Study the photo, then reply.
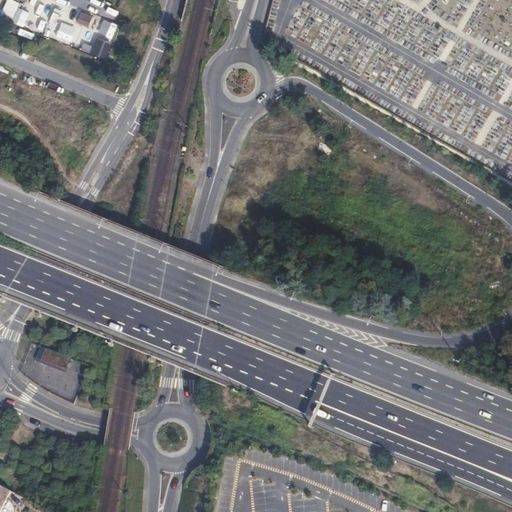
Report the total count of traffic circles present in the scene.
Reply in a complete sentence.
In total, there are 2 traffic circles in the scene.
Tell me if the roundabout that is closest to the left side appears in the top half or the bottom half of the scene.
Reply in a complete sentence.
The roundabout that is closest to the left side sits in the bottom half of the picture.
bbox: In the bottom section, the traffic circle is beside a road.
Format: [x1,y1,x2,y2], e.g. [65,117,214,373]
[140,404,206,470]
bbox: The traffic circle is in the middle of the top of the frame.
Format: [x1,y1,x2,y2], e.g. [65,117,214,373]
[207,48,276,118]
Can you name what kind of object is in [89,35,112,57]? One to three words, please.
house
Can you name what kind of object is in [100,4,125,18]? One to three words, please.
camper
